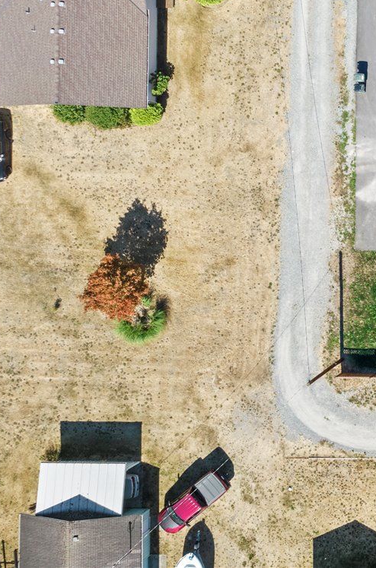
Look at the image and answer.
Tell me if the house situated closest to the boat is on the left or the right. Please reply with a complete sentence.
You can find the house situated closest to the boat on the left side of the picture.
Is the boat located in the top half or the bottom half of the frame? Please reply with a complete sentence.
The boat is in the bottom half of the image.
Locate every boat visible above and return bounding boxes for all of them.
[175,547,201,568]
